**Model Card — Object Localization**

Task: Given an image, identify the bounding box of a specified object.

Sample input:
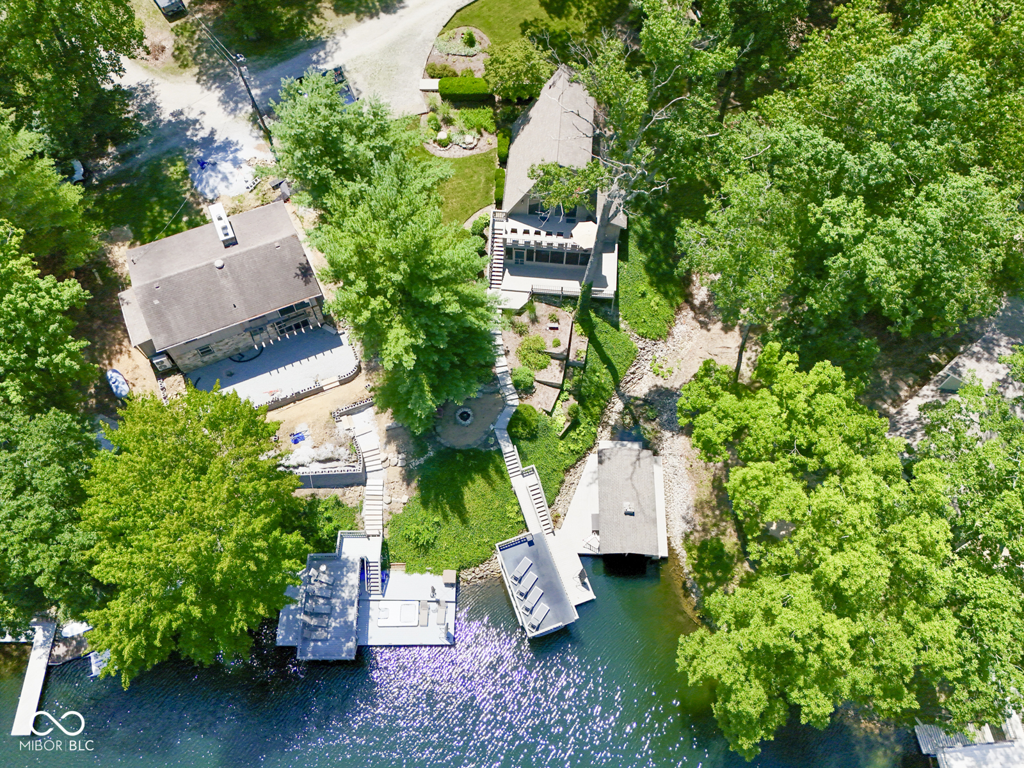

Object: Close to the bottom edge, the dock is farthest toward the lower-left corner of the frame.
[0,624,54,736]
